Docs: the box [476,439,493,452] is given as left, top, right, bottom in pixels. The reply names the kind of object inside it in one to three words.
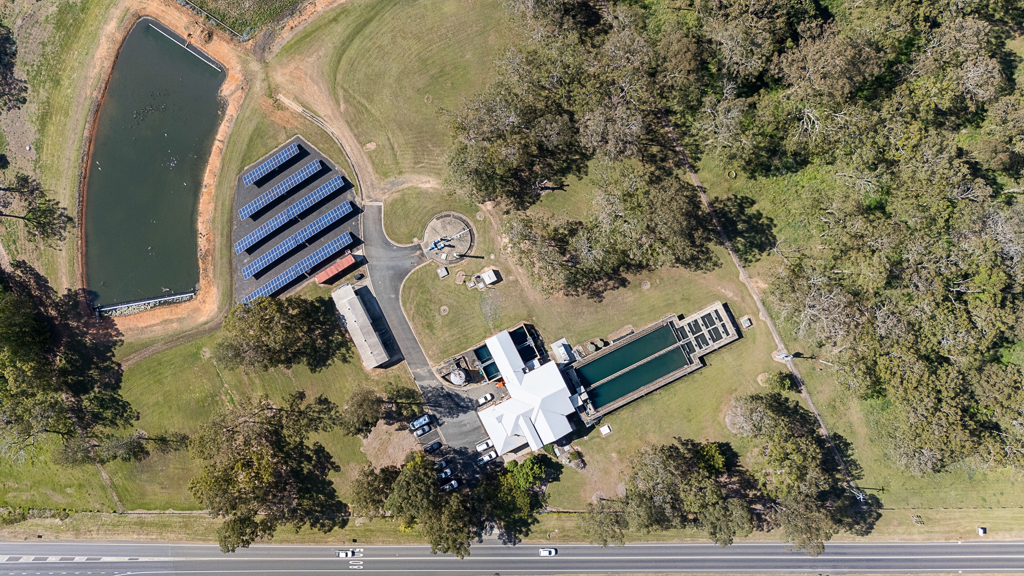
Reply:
vehicle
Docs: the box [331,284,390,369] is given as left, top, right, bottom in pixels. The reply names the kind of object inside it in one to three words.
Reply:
shed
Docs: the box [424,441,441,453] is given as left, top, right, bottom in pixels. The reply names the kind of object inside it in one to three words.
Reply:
vehicle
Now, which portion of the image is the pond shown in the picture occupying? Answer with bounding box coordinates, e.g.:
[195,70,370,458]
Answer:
[84,17,228,319]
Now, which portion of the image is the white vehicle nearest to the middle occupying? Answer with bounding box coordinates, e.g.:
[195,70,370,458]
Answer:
[474,392,493,406]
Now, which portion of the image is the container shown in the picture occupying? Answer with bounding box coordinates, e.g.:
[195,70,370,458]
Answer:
[315,254,358,284]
